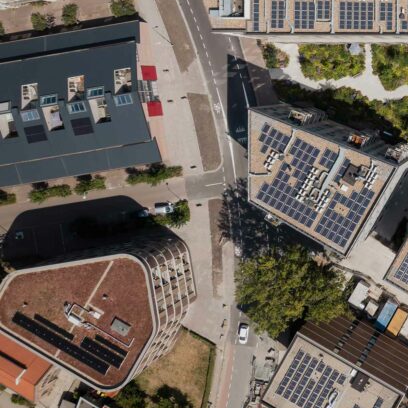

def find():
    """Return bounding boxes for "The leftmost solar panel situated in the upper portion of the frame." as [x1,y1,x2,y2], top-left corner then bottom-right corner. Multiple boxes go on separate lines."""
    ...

[24,125,47,143]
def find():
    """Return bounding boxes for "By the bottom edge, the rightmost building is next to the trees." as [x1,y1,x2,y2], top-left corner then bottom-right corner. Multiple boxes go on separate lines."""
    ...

[262,299,408,408]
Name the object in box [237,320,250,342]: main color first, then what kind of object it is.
white vehicle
